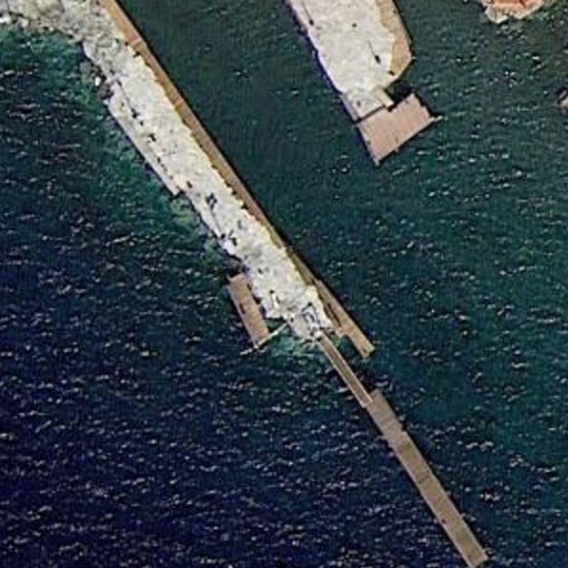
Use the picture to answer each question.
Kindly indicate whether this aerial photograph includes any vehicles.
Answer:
No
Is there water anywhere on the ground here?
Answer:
Yes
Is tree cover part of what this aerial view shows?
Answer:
No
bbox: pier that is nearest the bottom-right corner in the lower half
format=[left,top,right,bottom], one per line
[365,389,489,568]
